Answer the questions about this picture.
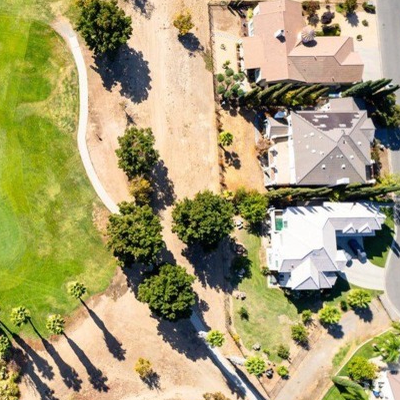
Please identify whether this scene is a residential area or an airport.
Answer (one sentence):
The picture captures a residential area.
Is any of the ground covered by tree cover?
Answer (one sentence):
Yes, the picture does contain tree cover.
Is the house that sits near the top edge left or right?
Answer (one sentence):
You can find the house that sits near the top edge on the right side of the picture.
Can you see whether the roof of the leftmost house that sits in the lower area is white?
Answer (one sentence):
Yes, the roof of the leftmost house that sits in the lower area is indeed white.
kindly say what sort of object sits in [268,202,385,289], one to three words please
house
